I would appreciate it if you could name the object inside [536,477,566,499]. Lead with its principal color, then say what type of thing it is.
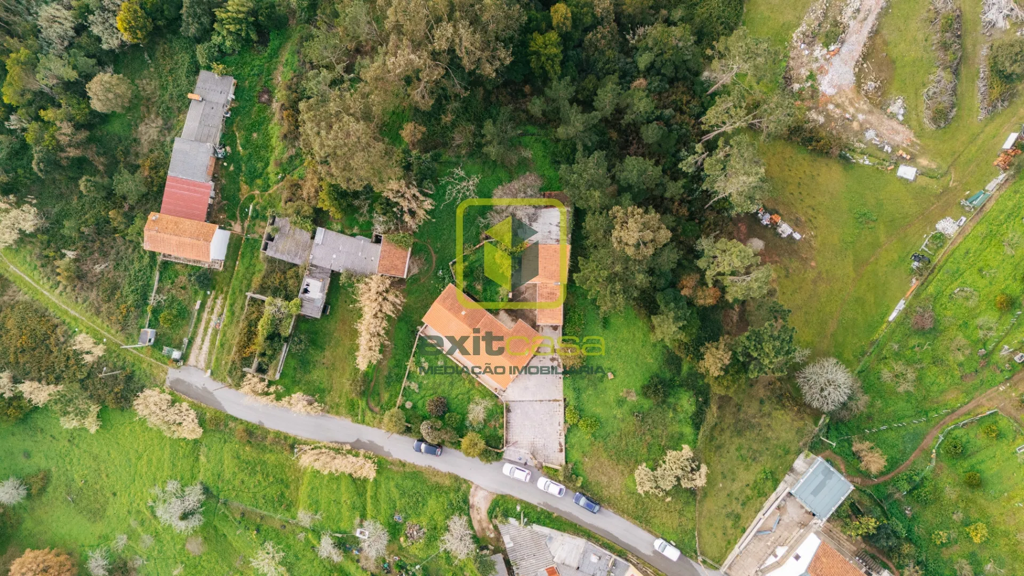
white car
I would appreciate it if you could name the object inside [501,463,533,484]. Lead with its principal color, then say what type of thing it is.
white car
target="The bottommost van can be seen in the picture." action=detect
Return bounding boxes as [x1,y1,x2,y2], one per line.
[652,537,685,566]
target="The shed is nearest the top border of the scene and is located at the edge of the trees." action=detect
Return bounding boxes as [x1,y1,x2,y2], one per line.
[181,70,240,144]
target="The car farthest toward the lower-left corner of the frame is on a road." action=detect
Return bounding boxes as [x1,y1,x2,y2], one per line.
[412,439,443,458]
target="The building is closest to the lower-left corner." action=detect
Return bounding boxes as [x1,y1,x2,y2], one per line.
[139,328,162,345]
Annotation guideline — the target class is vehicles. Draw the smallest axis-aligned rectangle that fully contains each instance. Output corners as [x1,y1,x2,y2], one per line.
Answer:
[501,463,533,484]
[572,492,603,517]
[412,439,443,458]
[536,477,566,499]
[652,537,685,566]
